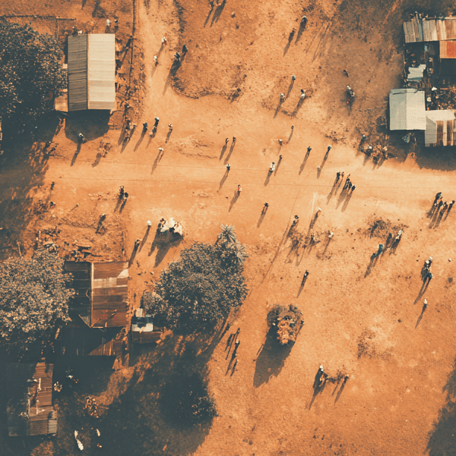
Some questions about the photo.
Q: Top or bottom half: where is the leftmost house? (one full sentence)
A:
It is in the bottom half that the leftmost house appears.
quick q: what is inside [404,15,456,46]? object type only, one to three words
shed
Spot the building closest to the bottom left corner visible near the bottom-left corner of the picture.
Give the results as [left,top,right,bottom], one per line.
[5,363,57,439]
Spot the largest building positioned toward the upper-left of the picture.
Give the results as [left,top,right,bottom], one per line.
[66,29,118,110]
